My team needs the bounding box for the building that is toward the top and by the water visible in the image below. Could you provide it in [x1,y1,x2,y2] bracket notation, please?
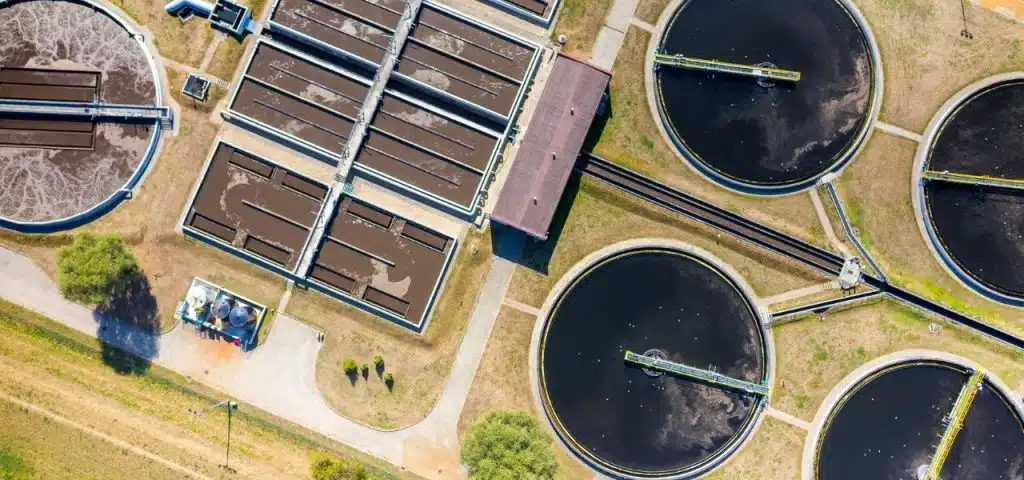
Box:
[488,52,613,239]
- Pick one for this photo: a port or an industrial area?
industrial area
